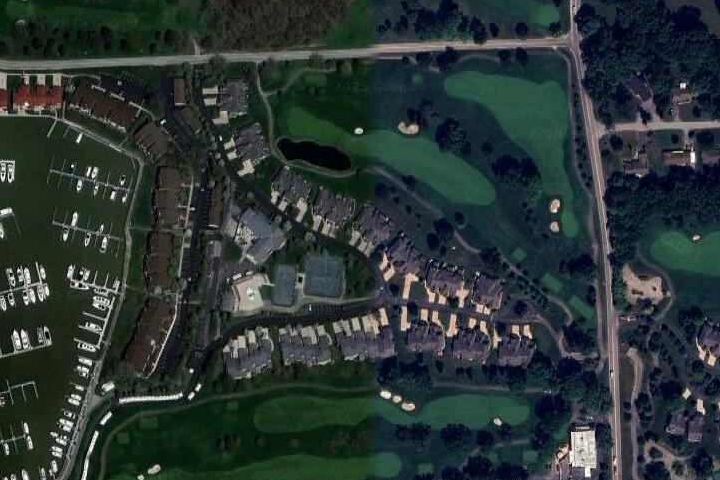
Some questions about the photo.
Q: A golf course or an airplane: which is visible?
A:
golf course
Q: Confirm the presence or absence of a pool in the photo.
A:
Yes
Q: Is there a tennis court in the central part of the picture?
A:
Yes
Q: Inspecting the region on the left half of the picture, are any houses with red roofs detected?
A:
Yes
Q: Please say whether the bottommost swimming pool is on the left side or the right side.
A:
left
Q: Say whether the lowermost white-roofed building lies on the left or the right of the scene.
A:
right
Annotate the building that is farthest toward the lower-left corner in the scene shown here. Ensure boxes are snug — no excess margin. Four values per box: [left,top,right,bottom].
[133,296,179,376]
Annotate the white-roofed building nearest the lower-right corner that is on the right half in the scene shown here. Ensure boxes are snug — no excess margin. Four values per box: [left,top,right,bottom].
[556,425,597,477]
